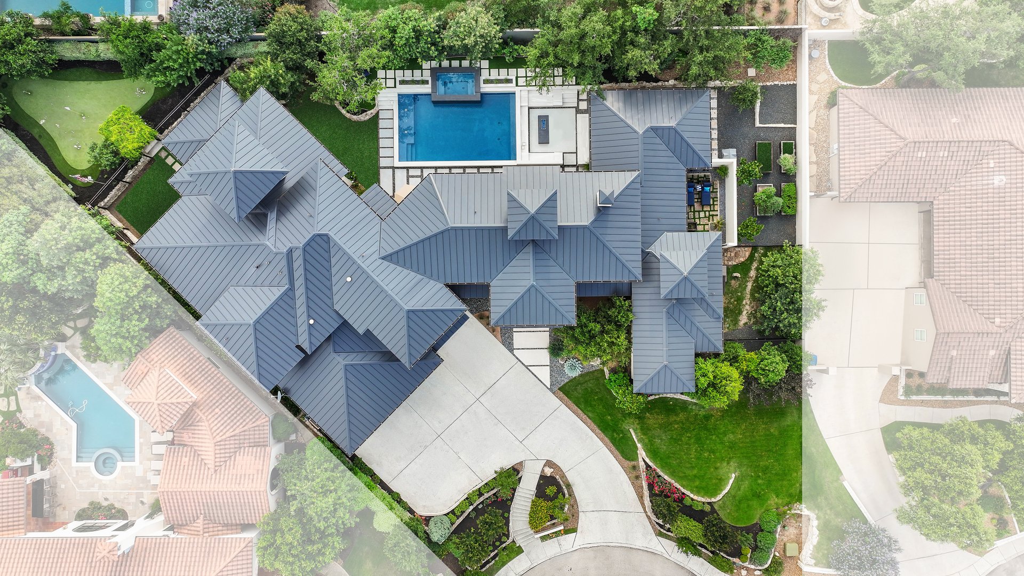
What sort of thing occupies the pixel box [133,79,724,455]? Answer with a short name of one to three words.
house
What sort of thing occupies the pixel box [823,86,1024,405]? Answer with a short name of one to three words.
house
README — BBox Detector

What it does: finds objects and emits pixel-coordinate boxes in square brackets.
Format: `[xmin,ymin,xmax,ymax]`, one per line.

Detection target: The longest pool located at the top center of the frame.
[393,90,563,165]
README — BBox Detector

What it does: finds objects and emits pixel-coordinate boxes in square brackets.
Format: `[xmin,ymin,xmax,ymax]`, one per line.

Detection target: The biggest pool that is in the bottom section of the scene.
[32,343,140,466]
